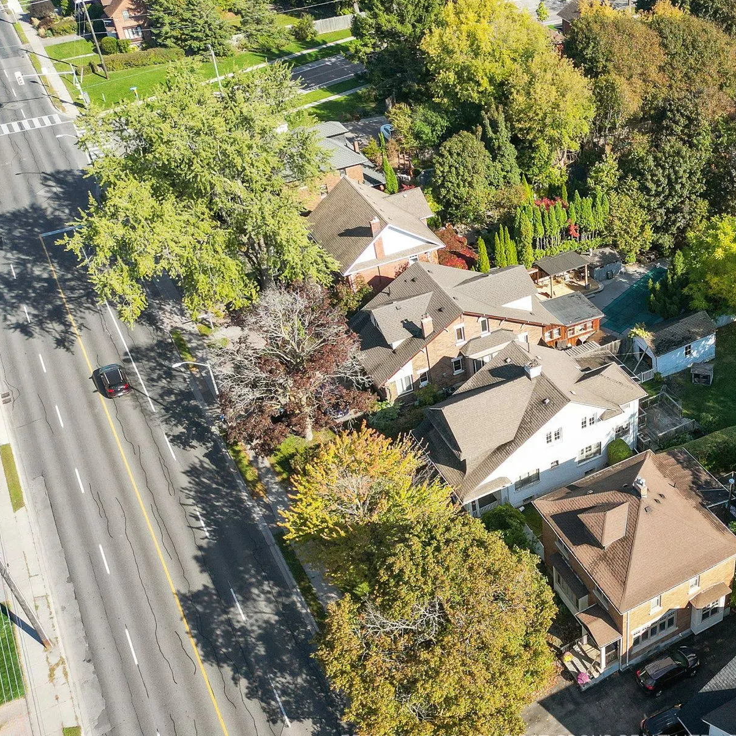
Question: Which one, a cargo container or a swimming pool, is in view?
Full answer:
The one in the frame is a swimming pool.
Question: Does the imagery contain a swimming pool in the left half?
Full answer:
No, looking in the left half, there is no swimming pool.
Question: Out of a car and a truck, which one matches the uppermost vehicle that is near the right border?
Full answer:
It looks like the uppermost vehicle that is near the right border is a car.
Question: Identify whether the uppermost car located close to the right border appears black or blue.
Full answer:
The uppermost car located close to the right border looks black in the image.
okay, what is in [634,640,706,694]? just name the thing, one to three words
car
